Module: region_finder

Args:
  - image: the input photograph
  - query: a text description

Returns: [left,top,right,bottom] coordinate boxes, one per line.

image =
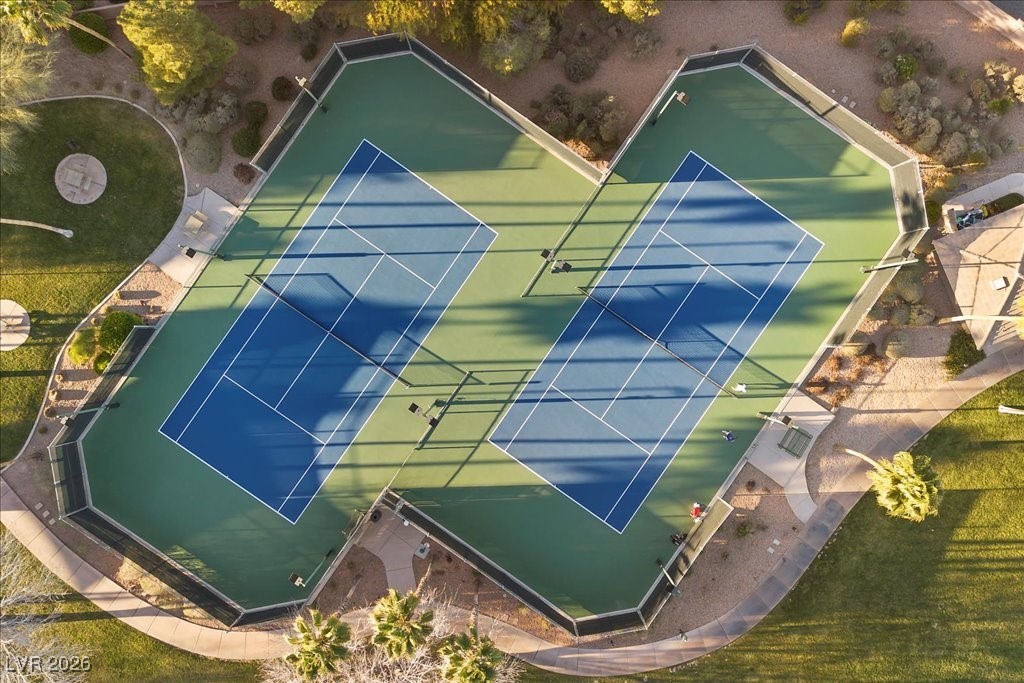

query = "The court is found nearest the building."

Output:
[391,70,894,616]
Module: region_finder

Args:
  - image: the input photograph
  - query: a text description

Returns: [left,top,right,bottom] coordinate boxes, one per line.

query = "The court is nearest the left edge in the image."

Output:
[84,56,598,606]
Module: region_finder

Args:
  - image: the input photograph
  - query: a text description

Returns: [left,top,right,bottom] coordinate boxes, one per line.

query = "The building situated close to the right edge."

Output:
[919,197,1024,350]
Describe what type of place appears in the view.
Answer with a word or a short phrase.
sports ground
